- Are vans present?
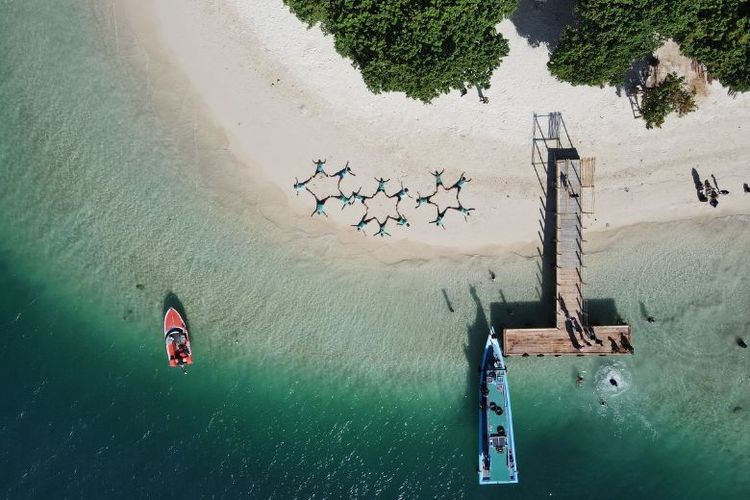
No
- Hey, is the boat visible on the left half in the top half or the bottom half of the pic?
bottom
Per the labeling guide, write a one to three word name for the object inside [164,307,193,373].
boat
